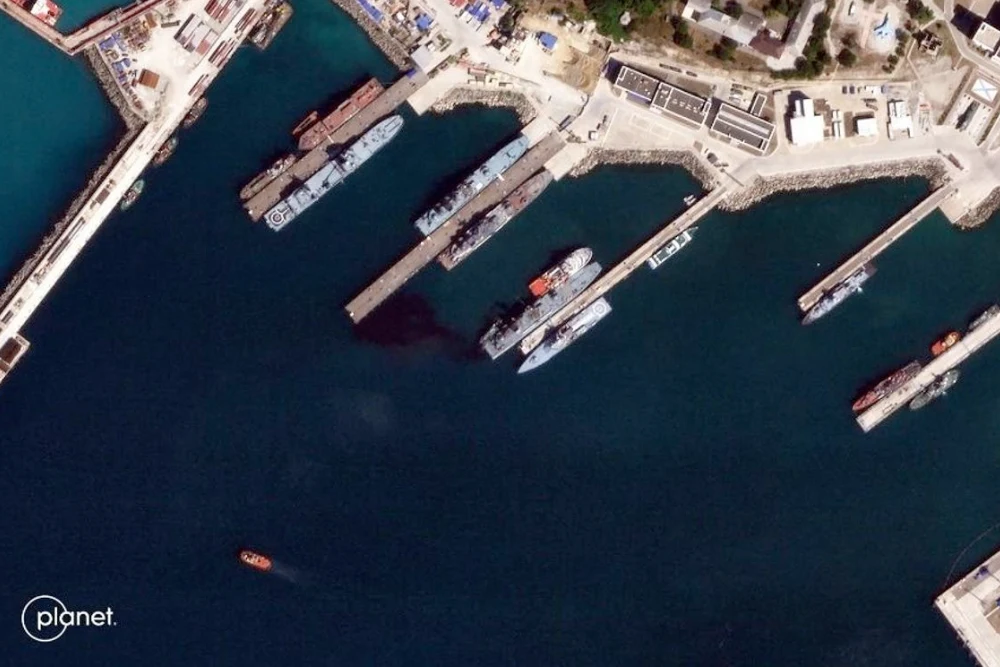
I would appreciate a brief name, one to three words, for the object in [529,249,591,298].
ship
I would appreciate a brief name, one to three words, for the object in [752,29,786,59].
house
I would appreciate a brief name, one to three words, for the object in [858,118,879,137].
building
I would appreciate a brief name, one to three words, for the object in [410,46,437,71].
shed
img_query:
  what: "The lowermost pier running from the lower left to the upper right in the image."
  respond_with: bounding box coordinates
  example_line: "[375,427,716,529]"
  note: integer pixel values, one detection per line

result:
[855,313,1000,433]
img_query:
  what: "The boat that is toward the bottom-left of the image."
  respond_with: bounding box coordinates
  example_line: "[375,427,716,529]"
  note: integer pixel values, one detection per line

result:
[239,552,272,572]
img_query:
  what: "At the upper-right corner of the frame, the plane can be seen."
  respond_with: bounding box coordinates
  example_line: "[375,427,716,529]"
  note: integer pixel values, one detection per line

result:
[877,19,893,38]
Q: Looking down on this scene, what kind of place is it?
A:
port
